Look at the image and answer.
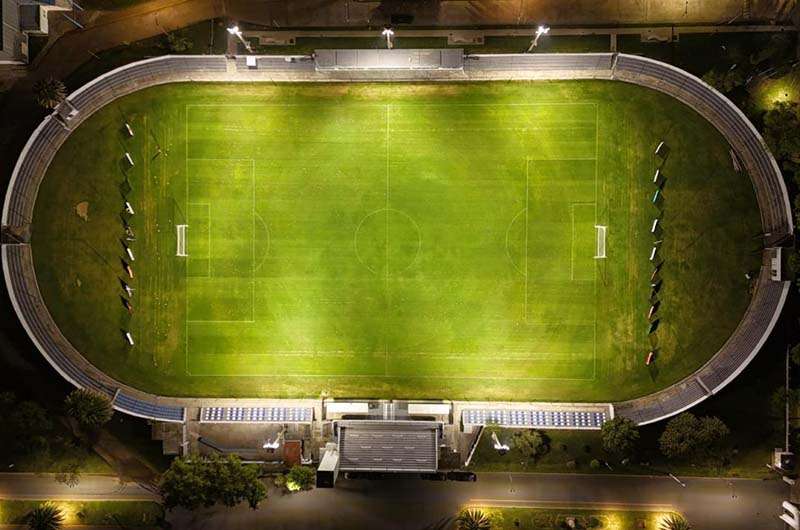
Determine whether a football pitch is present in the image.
Yes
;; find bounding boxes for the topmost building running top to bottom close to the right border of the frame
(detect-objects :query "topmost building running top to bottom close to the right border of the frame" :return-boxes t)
[767,248,781,280]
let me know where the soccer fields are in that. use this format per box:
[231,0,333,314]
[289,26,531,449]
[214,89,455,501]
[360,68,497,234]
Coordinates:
[180,99,603,384]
